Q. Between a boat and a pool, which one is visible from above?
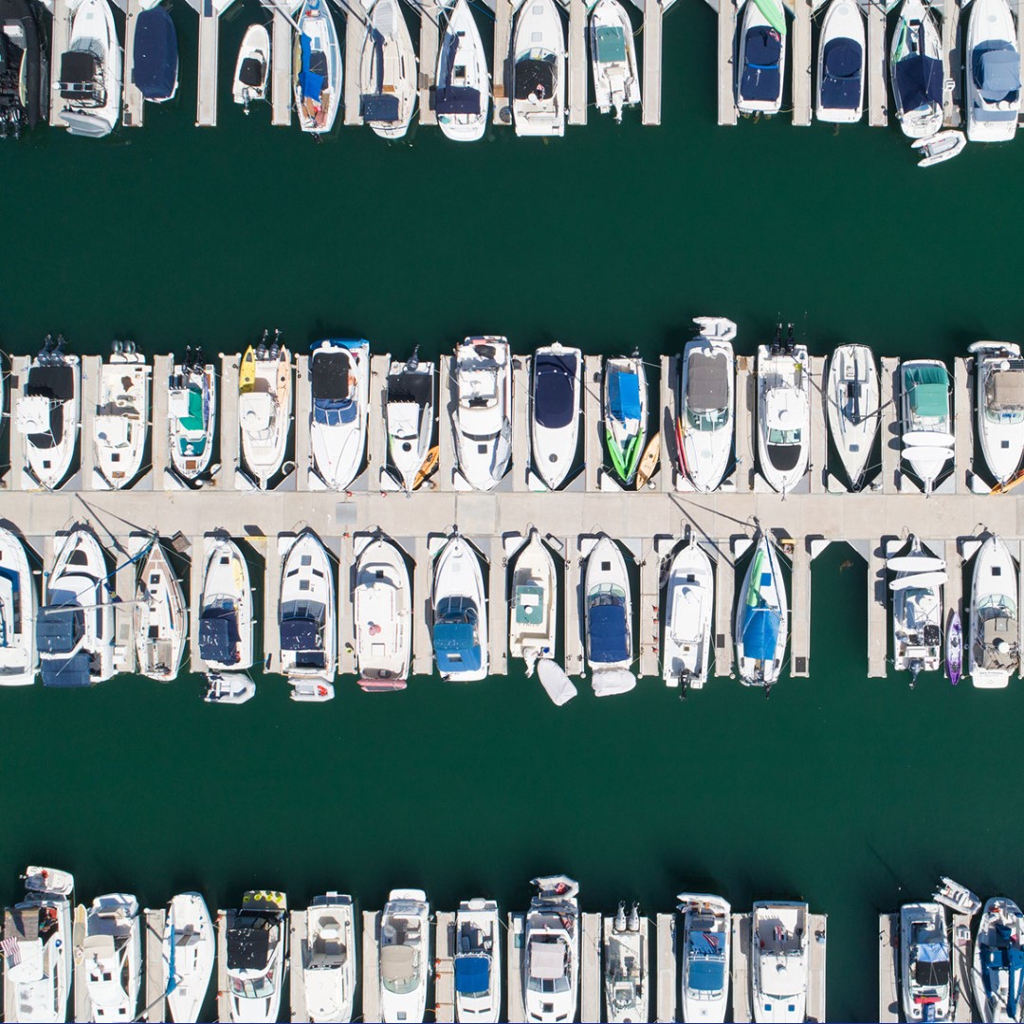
boat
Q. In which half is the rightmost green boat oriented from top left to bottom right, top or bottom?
top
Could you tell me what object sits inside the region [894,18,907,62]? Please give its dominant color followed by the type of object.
green boat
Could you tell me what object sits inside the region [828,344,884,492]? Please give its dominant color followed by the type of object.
white boat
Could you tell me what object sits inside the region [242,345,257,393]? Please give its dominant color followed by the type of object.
yellow boat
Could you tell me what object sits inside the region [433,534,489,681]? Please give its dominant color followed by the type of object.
white boat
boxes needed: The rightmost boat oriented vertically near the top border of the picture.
[964,0,1023,143]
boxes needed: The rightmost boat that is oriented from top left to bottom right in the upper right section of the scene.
[754,0,783,35]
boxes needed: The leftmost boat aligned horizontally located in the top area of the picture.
[61,112,116,139]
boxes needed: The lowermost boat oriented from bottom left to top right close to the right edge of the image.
[991,471,1024,495]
